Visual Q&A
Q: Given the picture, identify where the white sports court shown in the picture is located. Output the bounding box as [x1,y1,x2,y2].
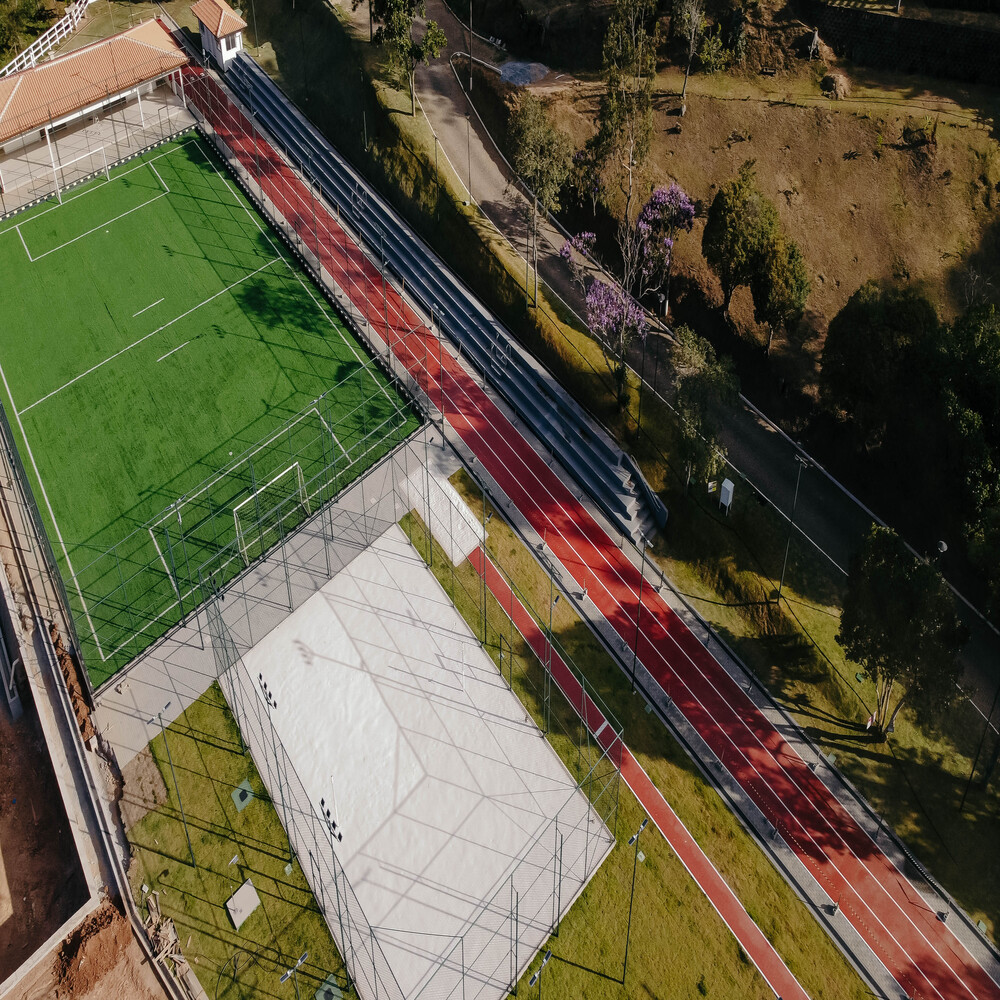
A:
[216,518,619,1000]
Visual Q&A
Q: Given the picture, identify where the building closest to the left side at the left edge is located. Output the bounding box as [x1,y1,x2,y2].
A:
[0,18,190,191]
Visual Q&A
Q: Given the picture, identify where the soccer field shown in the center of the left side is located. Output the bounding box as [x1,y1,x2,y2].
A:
[0,129,421,688]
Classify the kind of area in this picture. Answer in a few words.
sports ground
